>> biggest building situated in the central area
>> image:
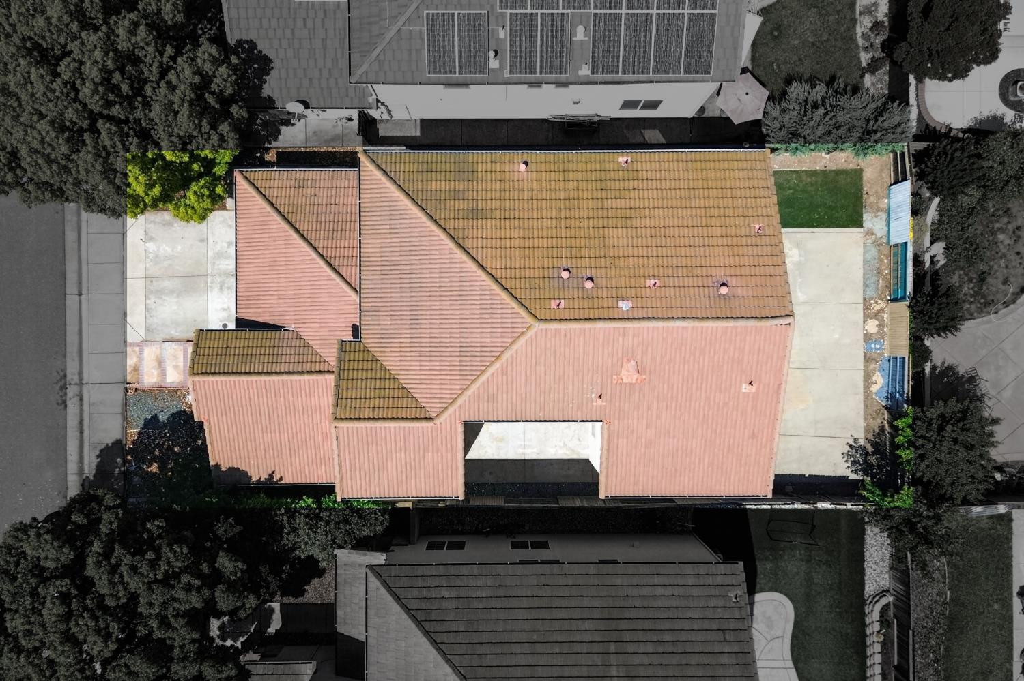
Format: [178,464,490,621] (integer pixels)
[186,144,797,501]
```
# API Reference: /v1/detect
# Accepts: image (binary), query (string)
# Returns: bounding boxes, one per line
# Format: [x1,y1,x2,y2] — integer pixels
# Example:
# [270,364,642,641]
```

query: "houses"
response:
[186,144,797,501]
[221,0,744,119]
[247,535,757,681]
